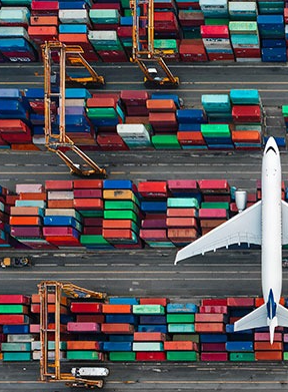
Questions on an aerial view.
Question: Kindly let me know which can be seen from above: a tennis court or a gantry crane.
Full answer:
It is a gantry crane that can be seen here.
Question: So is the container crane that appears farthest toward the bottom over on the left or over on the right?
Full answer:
The container crane that appears farthest toward the bottom appears in the left half of the scene.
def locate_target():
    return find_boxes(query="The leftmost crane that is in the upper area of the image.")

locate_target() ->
[41,40,108,177]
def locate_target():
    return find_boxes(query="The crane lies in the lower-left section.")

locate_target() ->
[36,281,103,387]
